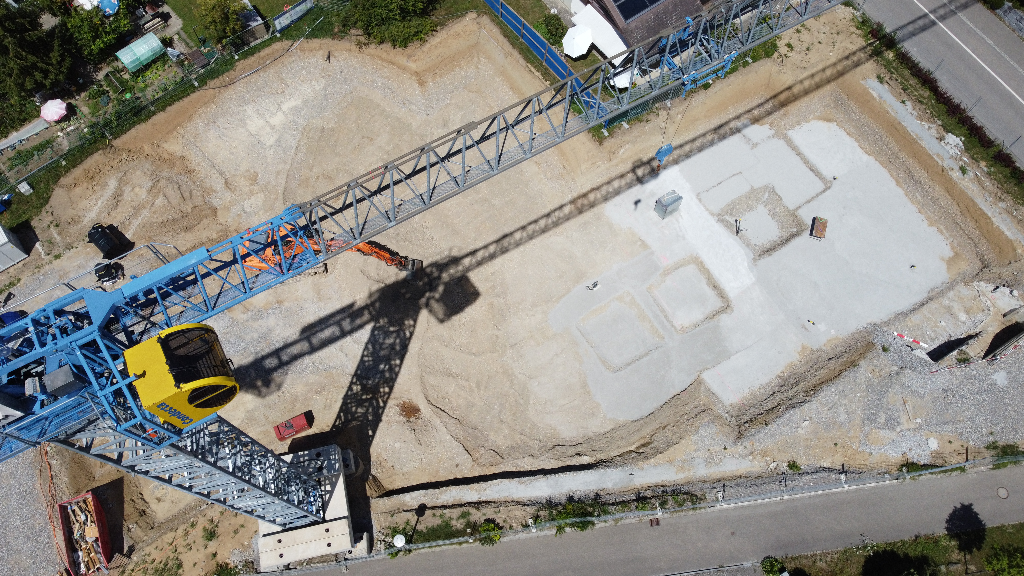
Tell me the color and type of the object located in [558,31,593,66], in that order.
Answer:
white umbrella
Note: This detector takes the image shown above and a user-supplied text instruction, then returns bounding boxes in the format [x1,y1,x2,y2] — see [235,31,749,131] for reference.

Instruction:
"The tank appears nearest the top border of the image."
[89,218,133,263]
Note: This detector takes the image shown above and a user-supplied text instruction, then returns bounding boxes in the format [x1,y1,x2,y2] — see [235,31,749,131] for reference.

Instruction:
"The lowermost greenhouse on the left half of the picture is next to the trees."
[115,31,171,78]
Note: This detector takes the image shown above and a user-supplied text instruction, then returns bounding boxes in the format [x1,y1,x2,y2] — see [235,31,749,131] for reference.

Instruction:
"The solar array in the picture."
[616,0,670,23]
